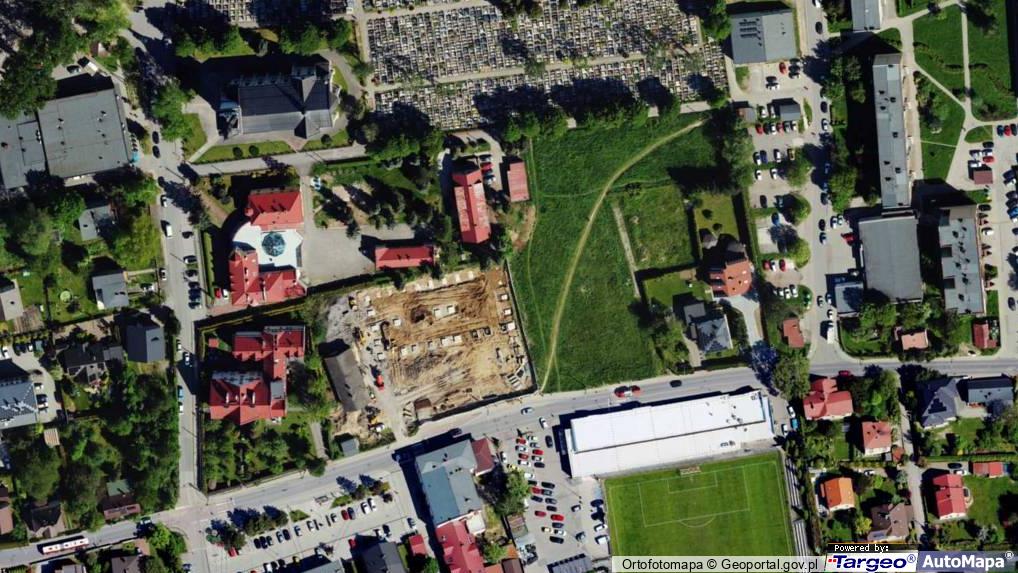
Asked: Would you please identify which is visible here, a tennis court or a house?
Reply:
house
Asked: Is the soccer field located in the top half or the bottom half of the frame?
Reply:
bottom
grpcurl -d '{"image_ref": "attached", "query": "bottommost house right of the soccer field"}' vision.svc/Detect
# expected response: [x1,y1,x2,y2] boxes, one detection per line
[867,503,914,540]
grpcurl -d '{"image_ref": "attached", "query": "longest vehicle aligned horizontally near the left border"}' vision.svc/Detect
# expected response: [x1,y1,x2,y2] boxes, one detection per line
[44,536,90,553]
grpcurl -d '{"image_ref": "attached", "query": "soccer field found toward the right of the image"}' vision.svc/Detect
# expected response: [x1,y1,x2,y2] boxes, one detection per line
[603,452,795,573]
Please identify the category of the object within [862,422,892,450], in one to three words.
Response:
house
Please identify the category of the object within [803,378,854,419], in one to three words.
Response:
house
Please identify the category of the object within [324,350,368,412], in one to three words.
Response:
barn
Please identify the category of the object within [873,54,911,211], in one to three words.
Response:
building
